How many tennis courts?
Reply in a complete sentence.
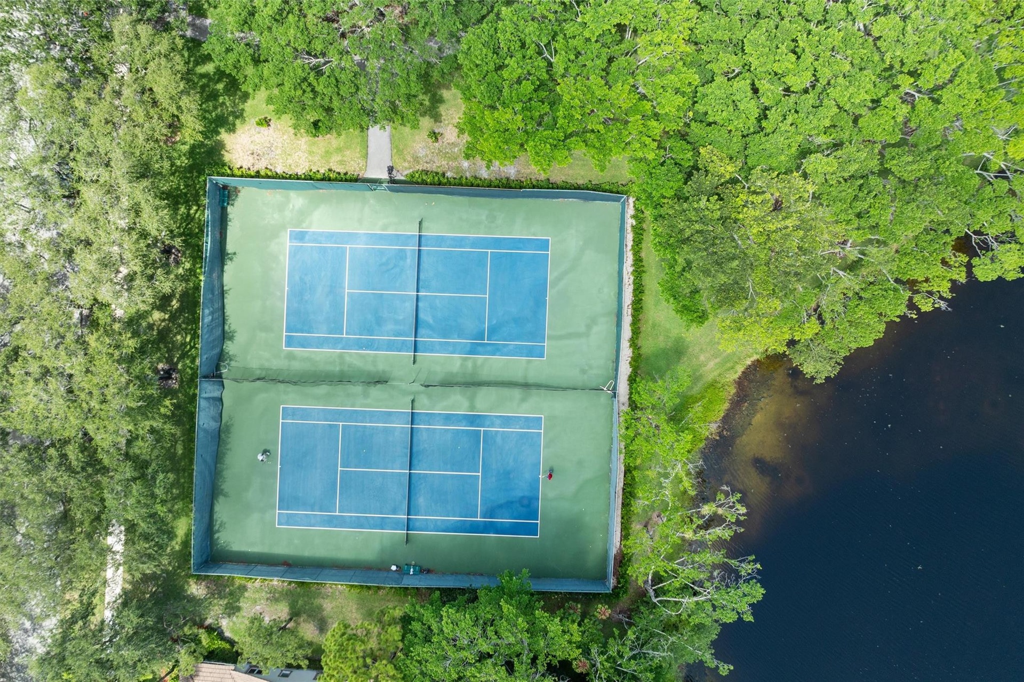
In total, there are 2 tennis courts in the scene.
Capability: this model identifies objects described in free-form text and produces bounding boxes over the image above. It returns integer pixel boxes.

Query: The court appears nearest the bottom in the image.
[211,376,611,578]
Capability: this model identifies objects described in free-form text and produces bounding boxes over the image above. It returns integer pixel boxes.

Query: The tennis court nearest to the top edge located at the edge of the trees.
[219,178,619,389]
